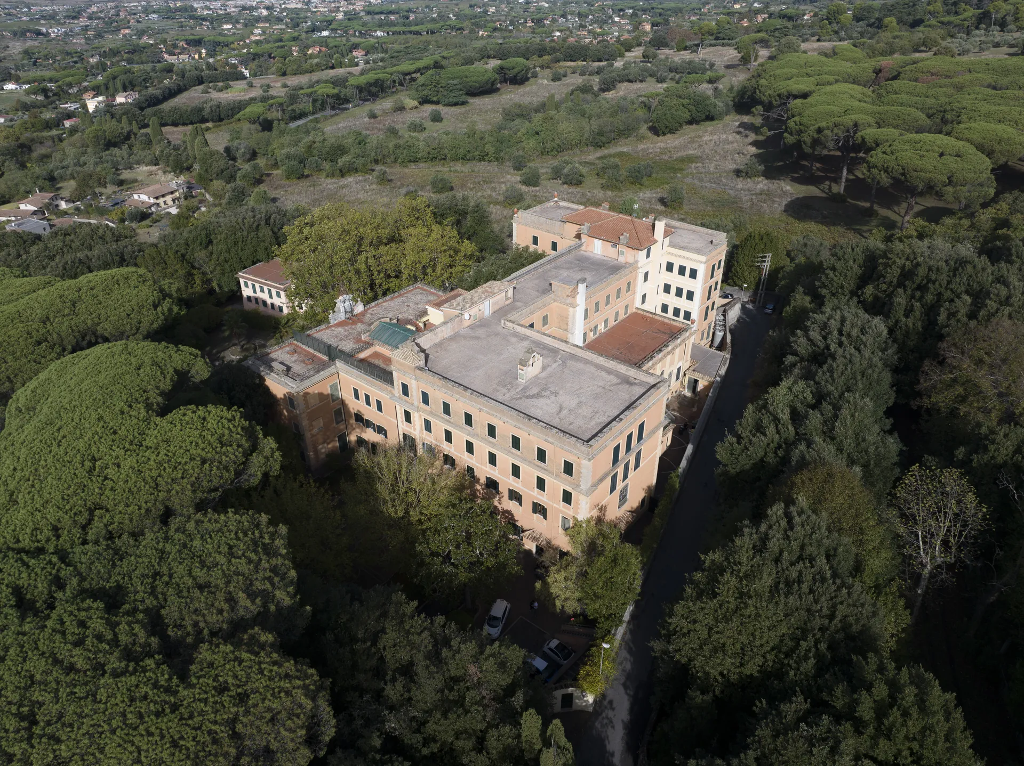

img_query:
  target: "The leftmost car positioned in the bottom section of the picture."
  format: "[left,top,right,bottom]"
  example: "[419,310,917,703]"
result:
[486,601,508,640]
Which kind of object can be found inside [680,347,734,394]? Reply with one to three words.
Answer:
shed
